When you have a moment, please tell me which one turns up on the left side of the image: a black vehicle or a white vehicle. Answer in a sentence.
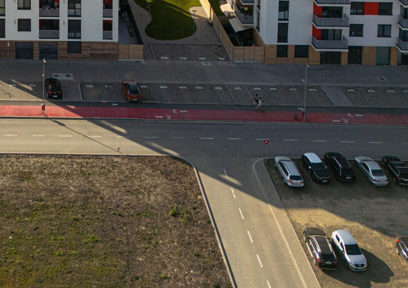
What appears on the left side of the image is a black vehicle.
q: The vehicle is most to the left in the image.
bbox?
[44,74,63,98]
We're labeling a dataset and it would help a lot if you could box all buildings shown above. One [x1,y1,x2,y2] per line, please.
[0,0,121,61]
[223,0,408,66]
